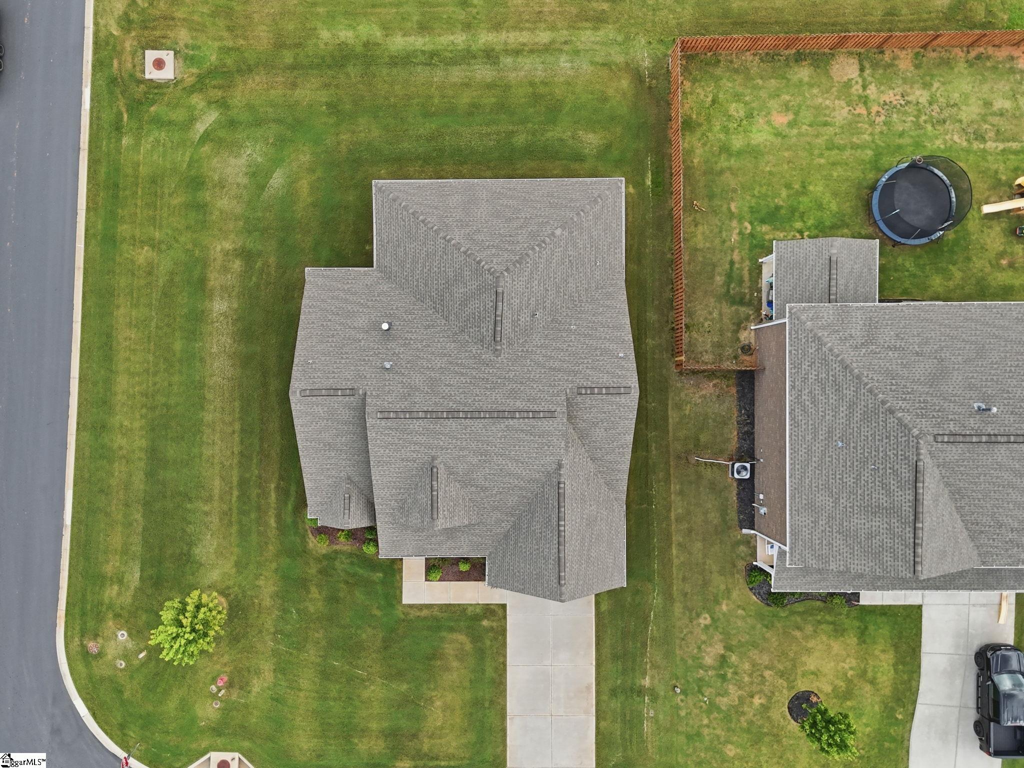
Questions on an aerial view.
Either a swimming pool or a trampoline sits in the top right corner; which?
trampoline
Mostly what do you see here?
grass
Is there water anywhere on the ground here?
No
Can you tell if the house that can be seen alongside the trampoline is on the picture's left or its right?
right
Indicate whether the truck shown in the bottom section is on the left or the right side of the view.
right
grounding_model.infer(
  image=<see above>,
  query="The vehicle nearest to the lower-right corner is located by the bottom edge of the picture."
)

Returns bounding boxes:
[973,642,1024,754]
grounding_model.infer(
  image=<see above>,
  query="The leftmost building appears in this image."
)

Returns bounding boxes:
[291,179,638,601]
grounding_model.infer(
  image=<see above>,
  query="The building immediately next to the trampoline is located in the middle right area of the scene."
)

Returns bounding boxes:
[744,237,1024,592]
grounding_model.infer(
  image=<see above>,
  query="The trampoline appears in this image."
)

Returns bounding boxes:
[859,154,972,252]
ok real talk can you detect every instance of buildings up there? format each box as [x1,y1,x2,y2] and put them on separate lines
[291,179,638,601]
[744,237,1024,592]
